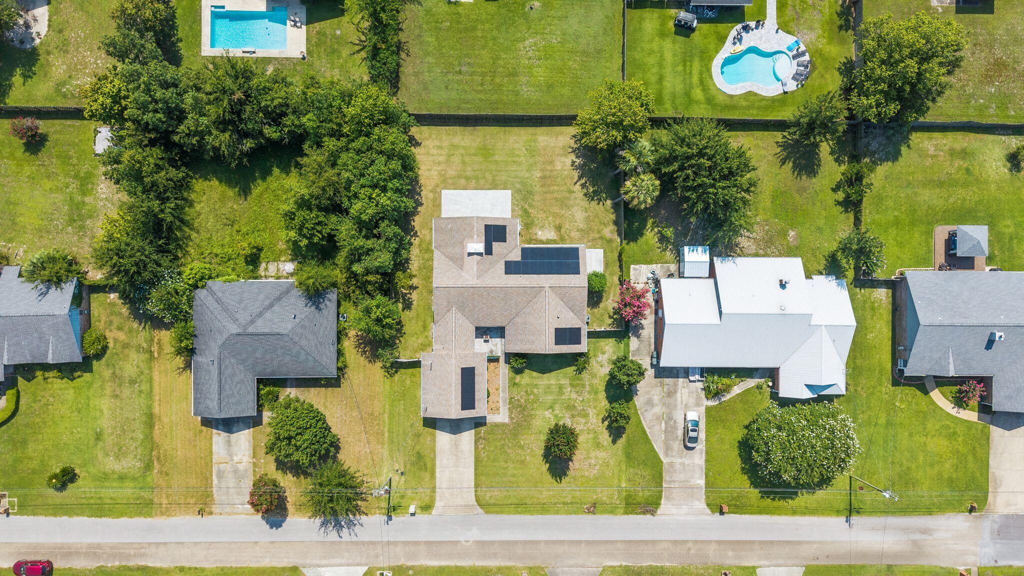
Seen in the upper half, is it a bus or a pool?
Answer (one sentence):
You can see a pool in the upper half.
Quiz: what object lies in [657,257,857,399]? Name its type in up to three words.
house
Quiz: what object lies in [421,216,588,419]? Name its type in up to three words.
house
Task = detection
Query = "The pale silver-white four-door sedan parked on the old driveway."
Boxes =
[685,411,703,450]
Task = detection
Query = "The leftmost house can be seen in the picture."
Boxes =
[0,265,92,382]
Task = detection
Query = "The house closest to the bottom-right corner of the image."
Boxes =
[896,270,1024,413]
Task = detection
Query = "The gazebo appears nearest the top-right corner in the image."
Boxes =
[944,224,989,257]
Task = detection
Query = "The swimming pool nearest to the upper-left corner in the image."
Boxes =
[202,0,306,57]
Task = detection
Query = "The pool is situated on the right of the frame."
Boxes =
[712,0,810,96]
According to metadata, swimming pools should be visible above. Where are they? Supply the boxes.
[712,0,810,96]
[202,0,306,57]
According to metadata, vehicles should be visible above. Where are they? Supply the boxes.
[676,8,698,29]
[10,561,50,576]
[685,411,703,450]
